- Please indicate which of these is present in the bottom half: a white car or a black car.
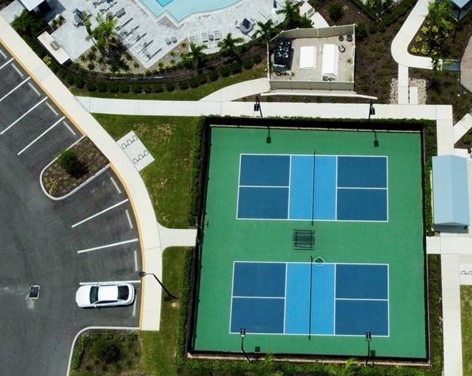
white car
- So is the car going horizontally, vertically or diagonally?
horizontally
